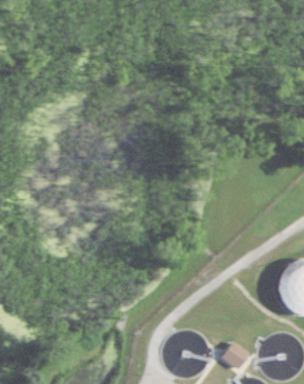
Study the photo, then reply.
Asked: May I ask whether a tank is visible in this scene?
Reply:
Yes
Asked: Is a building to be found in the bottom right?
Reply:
Yes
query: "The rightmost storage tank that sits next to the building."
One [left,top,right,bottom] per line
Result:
[254,332,304,382]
